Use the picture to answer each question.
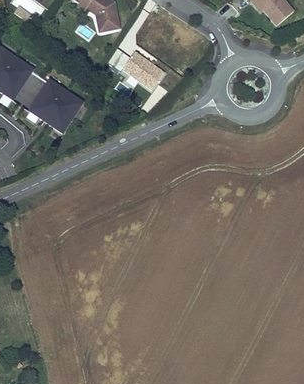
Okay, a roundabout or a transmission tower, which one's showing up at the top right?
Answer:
roundabout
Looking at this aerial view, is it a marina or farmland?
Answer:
farmland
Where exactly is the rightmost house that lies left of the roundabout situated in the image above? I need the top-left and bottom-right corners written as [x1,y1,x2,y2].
[123,50,166,93]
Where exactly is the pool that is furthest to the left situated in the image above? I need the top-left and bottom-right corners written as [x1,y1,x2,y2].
[75,24,96,42]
